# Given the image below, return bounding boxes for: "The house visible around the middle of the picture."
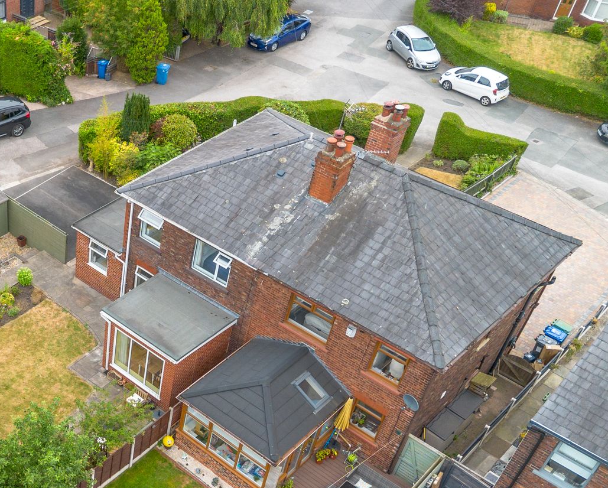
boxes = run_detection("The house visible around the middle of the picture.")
[67,99,585,488]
